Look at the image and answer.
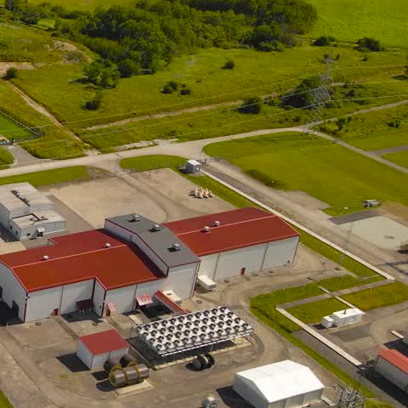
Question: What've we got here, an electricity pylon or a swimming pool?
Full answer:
The image shows an electricity pylon.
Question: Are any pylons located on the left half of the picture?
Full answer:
No, looking on the left half of the picture, there is no pylon.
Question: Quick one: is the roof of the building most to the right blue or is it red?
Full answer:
The color of the roof of the building most to the right is red.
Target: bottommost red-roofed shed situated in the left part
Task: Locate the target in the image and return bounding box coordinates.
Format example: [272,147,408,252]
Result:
[74,328,132,370]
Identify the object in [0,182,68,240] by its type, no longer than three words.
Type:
building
